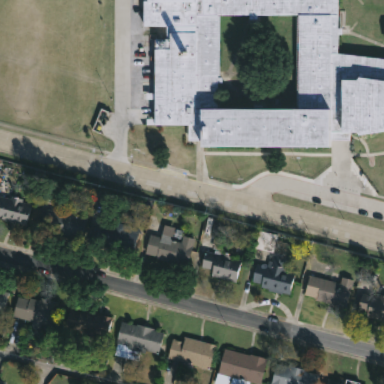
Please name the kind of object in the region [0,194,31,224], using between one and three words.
house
